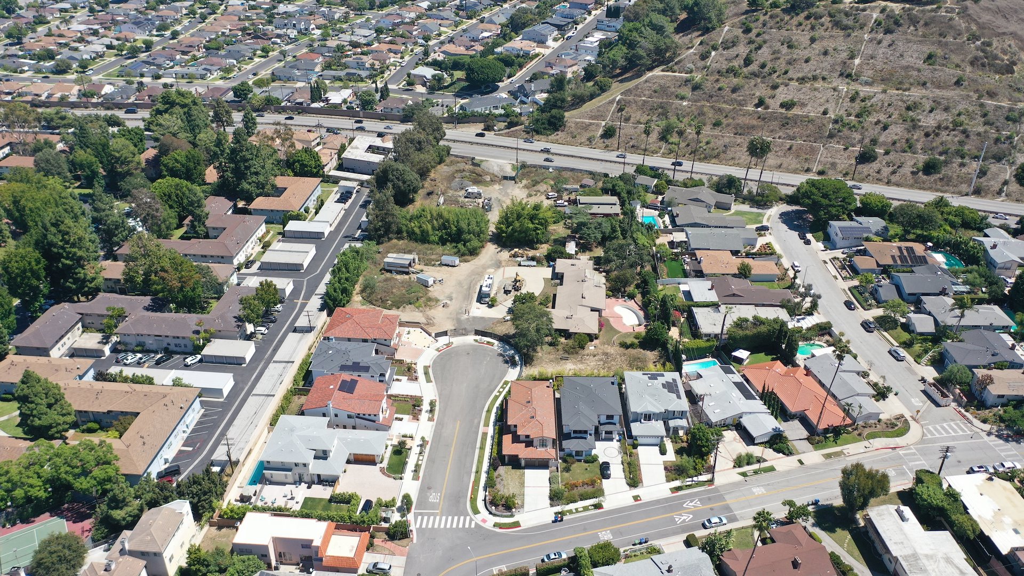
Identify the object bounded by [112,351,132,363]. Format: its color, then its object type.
gray vehicle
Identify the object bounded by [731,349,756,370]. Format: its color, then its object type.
white gazebo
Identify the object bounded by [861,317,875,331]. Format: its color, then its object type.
gray car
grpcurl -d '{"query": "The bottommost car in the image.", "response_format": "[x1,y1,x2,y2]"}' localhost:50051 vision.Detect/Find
[366,559,393,574]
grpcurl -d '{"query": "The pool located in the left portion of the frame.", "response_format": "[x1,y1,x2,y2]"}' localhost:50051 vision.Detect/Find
[247,463,264,486]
